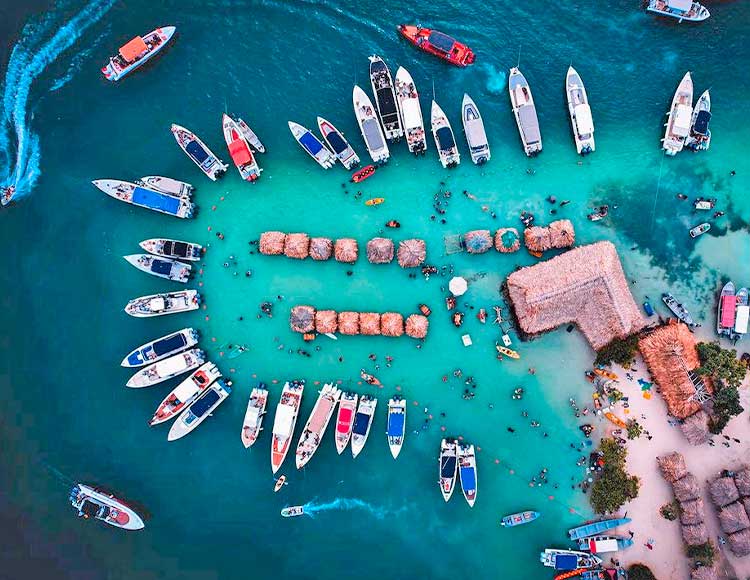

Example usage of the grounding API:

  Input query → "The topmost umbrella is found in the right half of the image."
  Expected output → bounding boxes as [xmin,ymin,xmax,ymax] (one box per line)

[449,277,467,295]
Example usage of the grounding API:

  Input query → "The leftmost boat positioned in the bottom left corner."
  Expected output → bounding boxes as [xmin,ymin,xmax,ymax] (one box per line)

[74,488,146,527]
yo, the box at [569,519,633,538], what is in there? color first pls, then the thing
blue boat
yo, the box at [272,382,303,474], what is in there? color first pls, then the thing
white boat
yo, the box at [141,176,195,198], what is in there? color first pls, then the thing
white boat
